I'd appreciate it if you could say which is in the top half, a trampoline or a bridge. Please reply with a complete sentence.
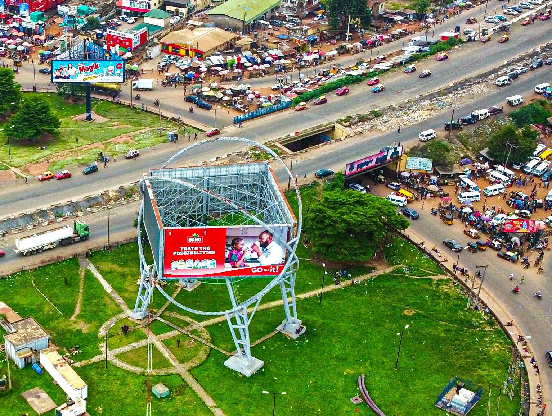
The feature located in the top half is a bridge.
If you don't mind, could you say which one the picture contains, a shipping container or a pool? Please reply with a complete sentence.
I can see a shipping container in this picture.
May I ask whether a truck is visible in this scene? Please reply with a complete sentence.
Yes, the photo shows a truck.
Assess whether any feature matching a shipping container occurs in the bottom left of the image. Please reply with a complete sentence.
Yes, in the bottom left of the image there is a shipping container.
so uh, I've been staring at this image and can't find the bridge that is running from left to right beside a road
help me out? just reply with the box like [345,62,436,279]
[220,98,432,193]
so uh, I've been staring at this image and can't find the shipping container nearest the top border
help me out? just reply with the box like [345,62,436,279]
[46,341,89,396]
